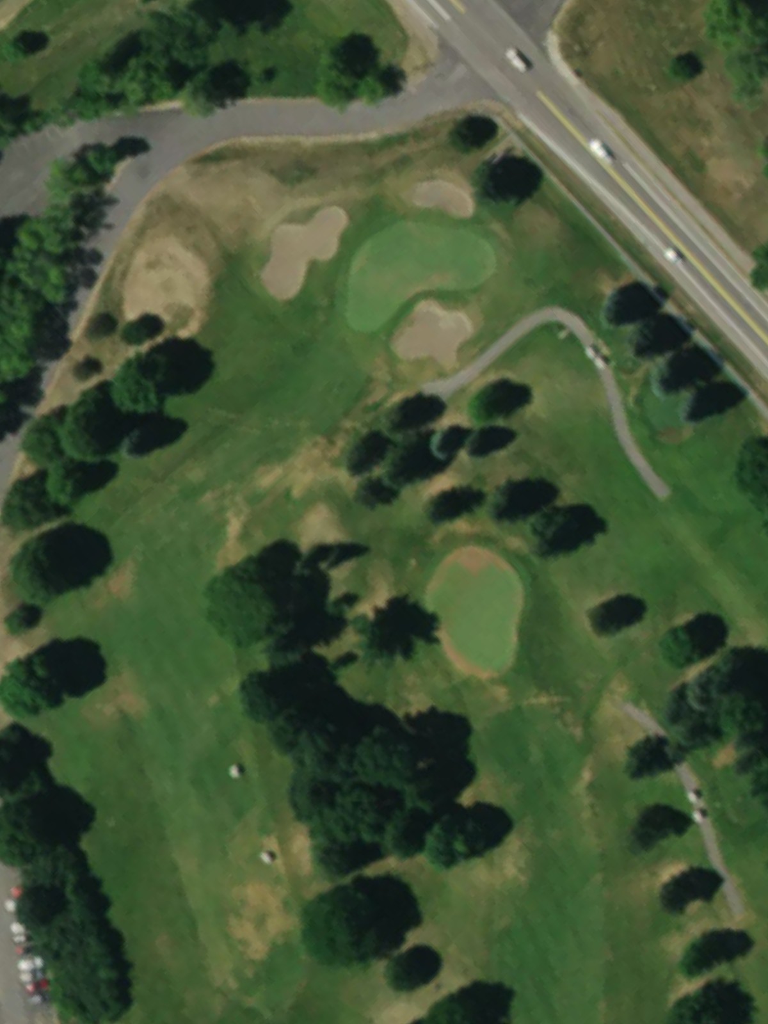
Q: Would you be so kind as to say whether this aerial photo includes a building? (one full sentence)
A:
No, there's no building here.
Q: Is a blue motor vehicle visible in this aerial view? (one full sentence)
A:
No, the frame has no blue motor vehicle in it.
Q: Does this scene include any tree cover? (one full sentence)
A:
Yes, there's tree cover in this view.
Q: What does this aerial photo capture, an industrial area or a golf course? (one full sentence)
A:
This looks like a golf course.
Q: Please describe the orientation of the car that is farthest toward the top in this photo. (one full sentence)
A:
The car that is farthest toward the top runs on a diagonal in the image.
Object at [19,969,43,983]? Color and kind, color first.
white car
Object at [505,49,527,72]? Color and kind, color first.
white car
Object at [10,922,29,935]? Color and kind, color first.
white vehicle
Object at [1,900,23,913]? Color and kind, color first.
white vehicle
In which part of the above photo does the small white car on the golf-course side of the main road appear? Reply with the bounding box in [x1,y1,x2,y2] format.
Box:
[662,245,681,265]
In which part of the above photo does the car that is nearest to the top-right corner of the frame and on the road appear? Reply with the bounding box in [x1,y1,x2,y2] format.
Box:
[590,139,612,161]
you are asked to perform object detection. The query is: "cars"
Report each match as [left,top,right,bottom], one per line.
[662,245,681,265]
[24,980,48,993]
[1,900,23,913]
[28,992,53,1006]
[505,49,527,72]
[12,932,33,945]
[19,969,43,983]
[590,139,612,161]
[10,922,29,935]
[19,957,44,971]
